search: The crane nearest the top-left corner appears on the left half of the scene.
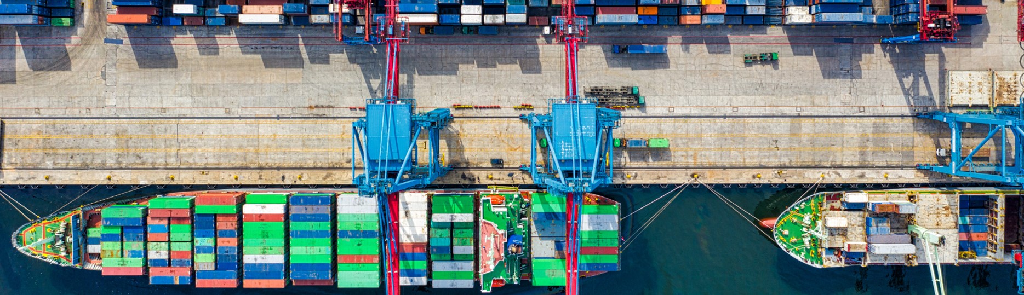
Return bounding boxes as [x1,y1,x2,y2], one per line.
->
[335,0,386,43]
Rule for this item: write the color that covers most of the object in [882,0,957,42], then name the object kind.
red container crane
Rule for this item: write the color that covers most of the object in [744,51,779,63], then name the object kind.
green vehicle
